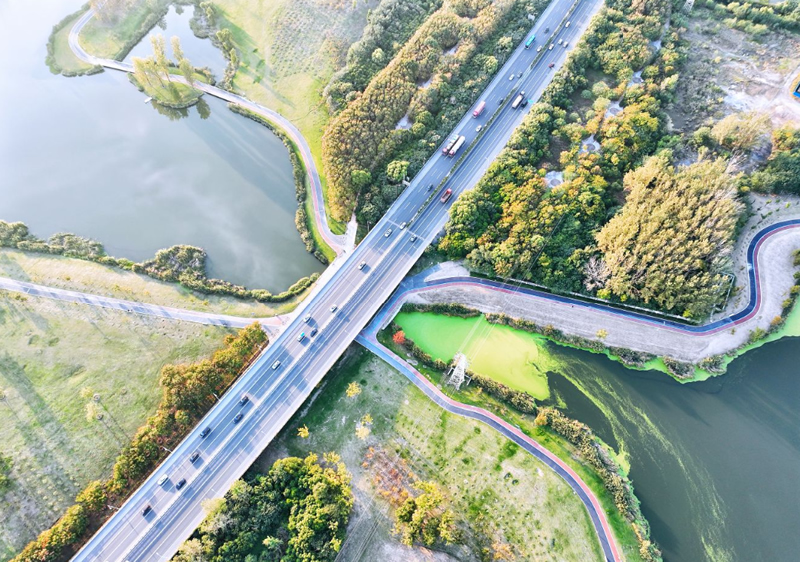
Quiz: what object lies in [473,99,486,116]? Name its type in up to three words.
vehicle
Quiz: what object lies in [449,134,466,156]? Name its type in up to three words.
vehicle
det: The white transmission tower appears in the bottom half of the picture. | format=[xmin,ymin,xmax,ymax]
[445,352,474,393]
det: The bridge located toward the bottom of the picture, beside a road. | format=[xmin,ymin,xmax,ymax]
[62,217,430,562]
